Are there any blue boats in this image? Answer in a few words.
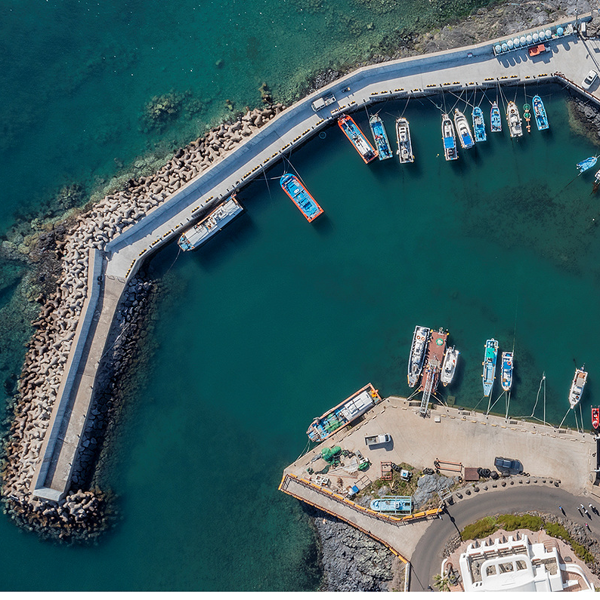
Yes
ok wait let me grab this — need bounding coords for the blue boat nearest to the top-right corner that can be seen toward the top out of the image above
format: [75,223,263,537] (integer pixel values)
[532,95,548,131]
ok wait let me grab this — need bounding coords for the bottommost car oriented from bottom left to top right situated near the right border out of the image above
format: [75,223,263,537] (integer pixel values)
[581,69,600,91]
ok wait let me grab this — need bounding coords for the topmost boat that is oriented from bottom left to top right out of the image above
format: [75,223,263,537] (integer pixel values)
[574,155,597,175]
